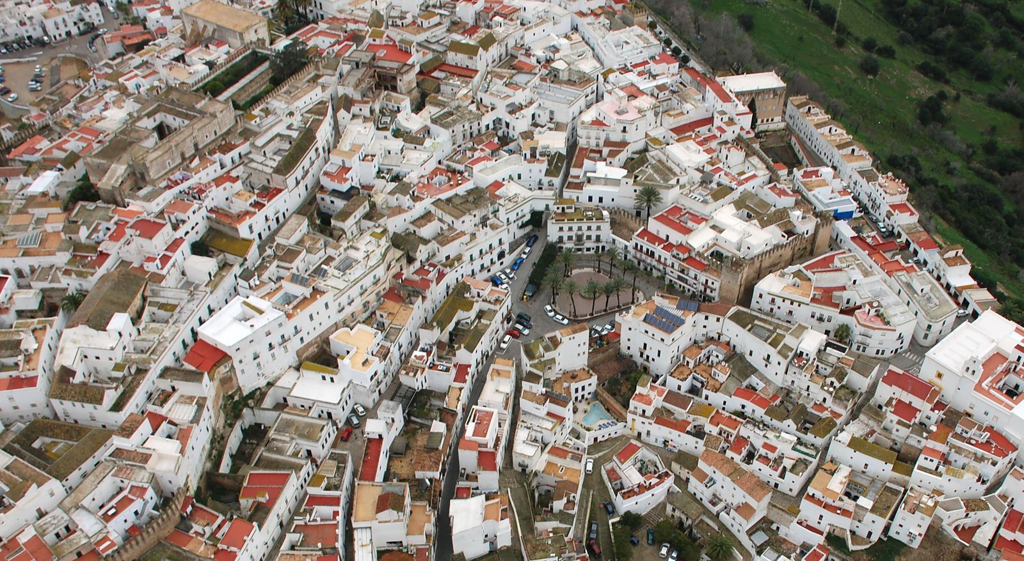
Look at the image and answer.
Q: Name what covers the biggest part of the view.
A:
buildings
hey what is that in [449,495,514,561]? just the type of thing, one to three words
house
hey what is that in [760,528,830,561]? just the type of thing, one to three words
house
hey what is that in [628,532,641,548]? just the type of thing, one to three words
vehicle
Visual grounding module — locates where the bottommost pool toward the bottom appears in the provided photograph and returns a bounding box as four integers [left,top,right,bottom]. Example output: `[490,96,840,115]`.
[571,392,628,443]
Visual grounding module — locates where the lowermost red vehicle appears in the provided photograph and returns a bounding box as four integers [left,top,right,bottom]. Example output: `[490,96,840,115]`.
[589,539,602,555]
